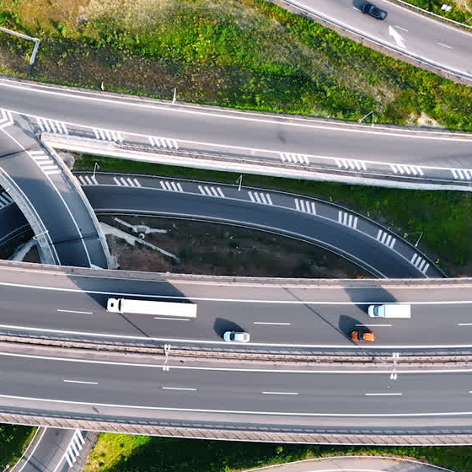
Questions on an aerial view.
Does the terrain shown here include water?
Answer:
No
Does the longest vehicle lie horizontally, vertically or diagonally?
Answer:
horizontally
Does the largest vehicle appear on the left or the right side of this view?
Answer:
left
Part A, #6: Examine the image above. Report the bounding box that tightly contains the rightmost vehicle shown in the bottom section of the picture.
[368,304,415,318]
